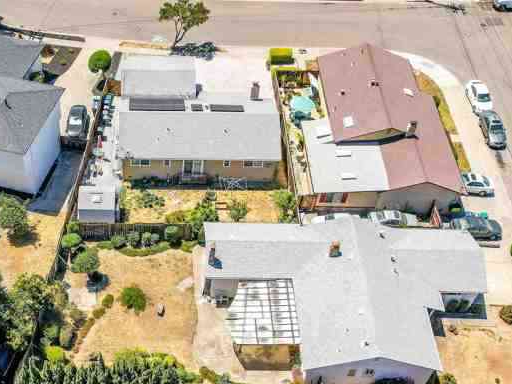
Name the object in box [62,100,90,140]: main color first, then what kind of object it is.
gray car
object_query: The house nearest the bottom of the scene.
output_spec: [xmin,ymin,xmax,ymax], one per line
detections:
[204,213,488,384]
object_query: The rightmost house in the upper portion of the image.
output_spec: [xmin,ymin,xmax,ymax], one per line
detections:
[299,43,466,213]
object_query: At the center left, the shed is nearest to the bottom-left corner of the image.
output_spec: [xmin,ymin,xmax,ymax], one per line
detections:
[77,186,118,224]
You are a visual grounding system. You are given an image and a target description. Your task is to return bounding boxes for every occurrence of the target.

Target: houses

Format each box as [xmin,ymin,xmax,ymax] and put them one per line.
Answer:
[0,33,65,194]
[119,55,282,194]
[204,213,488,384]
[299,43,466,213]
